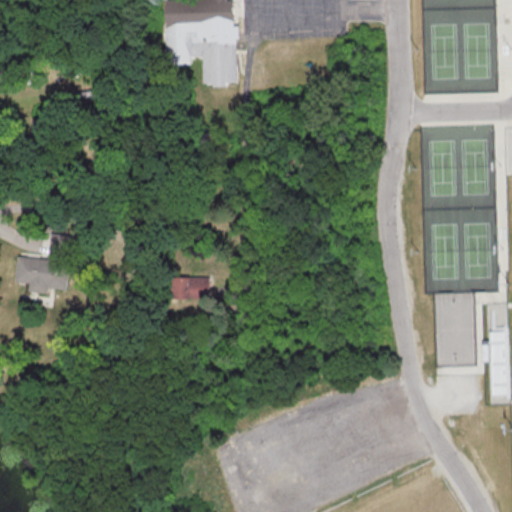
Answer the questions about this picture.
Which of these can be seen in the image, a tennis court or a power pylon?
tennis court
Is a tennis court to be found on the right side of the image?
Yes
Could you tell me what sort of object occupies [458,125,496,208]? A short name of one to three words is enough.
tennis court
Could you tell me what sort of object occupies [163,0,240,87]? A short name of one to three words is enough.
building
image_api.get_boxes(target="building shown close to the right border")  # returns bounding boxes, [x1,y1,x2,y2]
[482,310,510,404]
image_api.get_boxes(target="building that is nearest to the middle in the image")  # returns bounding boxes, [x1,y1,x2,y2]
[172,275,216,300]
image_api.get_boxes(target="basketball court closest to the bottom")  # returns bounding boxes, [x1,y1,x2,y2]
[435,292,476,366]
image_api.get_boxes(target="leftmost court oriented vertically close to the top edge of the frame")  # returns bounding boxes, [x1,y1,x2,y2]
[422,8,462,93]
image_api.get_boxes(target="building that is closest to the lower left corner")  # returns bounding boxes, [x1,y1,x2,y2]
[16,256,69,295]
